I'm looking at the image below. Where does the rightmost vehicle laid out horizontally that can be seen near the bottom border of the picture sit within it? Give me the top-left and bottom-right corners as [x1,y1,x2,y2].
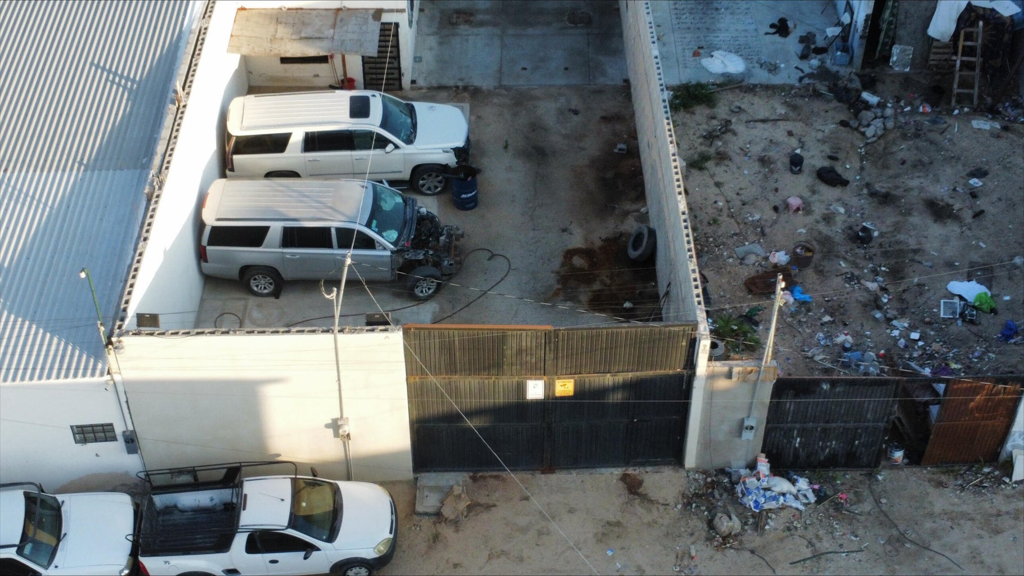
[121,460,405,576]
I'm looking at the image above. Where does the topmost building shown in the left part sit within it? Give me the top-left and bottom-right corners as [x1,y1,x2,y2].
[228,0,419,95]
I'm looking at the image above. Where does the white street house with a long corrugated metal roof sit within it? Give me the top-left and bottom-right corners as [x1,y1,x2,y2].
[0,0,208,482]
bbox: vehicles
[121,460,405,576]
[206,177,480,298]
[229,89,472,197]
[0,478,140,576]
